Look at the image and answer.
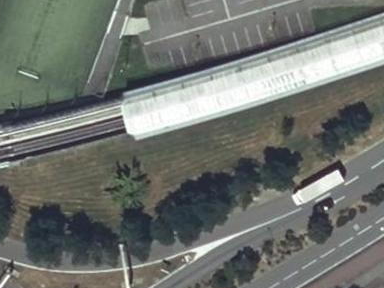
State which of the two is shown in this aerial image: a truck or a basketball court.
truck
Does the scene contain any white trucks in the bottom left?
No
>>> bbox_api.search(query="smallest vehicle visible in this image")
[314,196,334,212]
